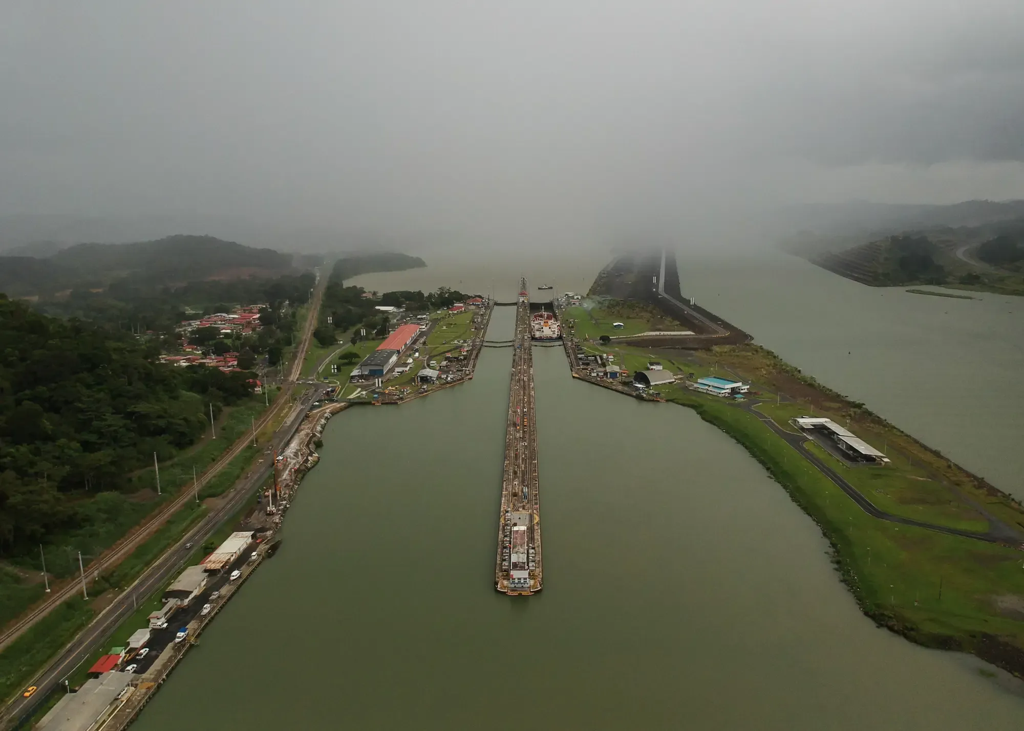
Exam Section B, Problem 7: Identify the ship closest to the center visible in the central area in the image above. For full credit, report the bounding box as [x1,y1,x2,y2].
[531,309,559,343]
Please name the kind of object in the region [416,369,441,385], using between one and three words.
building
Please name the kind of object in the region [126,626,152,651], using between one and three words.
shed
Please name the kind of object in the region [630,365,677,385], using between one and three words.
hangar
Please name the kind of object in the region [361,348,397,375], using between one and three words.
building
